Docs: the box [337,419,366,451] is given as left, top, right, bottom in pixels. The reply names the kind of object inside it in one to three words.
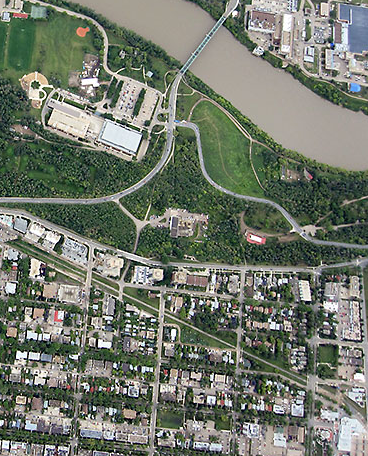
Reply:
building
